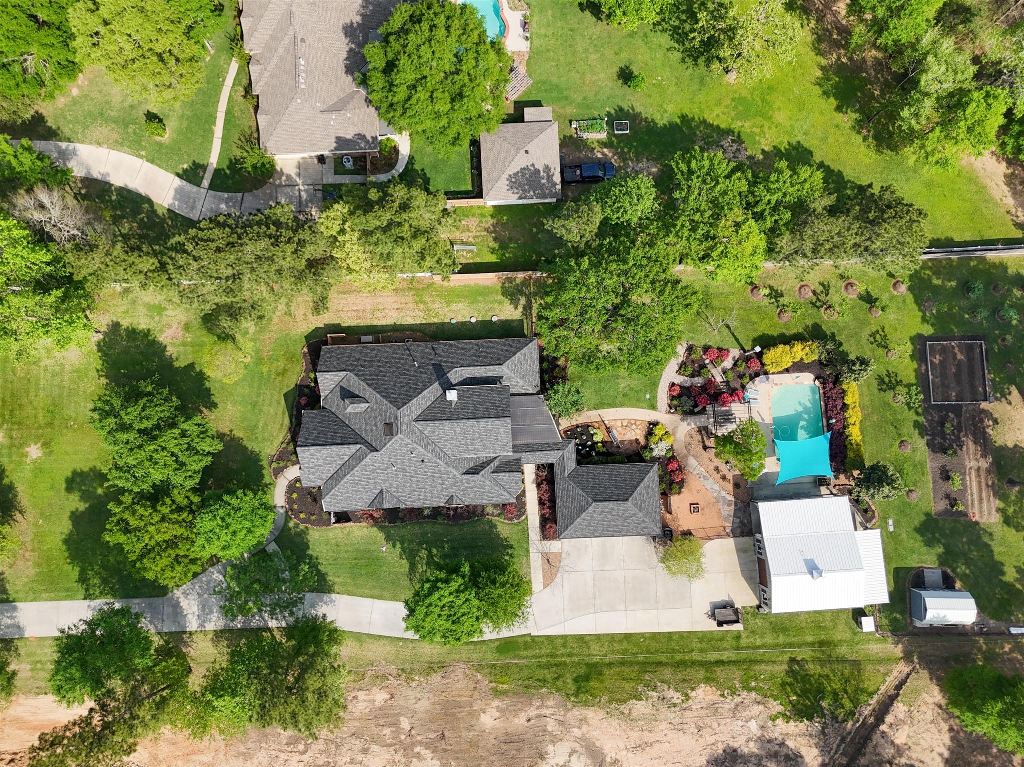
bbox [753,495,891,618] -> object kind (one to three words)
barn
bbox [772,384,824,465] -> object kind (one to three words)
swimming pool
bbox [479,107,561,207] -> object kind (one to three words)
building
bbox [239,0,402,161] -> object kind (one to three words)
house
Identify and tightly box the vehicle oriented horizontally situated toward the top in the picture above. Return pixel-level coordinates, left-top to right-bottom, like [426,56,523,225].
[562,161,616,185]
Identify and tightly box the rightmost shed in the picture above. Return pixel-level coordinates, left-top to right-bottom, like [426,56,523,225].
[912,569,977,625]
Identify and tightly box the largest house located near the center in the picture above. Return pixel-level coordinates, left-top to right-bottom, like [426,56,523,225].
[296,337,539,522]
